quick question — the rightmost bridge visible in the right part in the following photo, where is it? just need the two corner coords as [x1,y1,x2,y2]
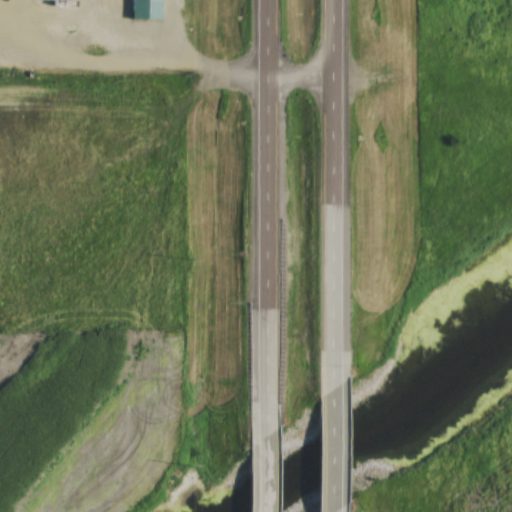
[322,374,352,512]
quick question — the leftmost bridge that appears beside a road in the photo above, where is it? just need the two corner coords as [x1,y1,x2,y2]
[252,420,284,512]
